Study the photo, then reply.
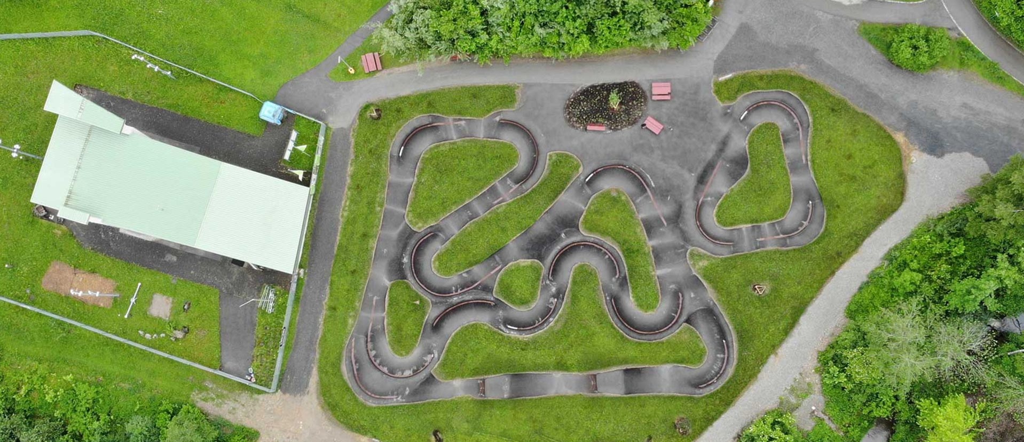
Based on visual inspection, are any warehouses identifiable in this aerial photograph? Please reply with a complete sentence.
Yes, the photo shows a warehouse.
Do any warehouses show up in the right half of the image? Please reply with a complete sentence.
No, no warehouse appears in the right half of the image.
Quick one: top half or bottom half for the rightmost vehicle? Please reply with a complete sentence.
The top half of the photo is where the rightmost vehicle is.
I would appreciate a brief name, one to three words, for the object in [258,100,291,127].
vehicle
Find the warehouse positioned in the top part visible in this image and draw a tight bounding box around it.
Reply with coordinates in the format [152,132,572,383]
[30,79,314,274]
